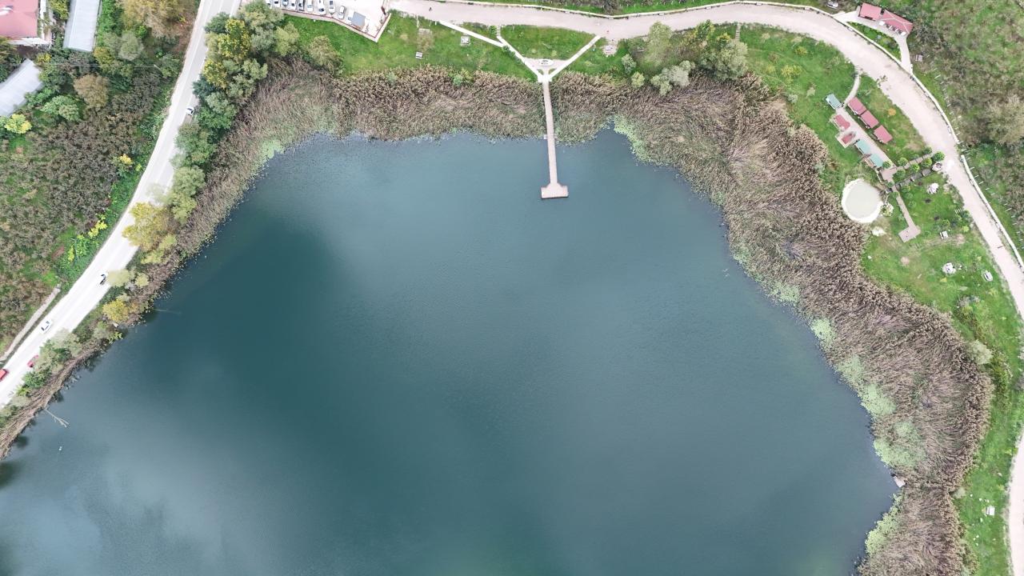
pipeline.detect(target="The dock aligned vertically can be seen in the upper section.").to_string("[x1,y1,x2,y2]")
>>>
[541,80,568,198]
